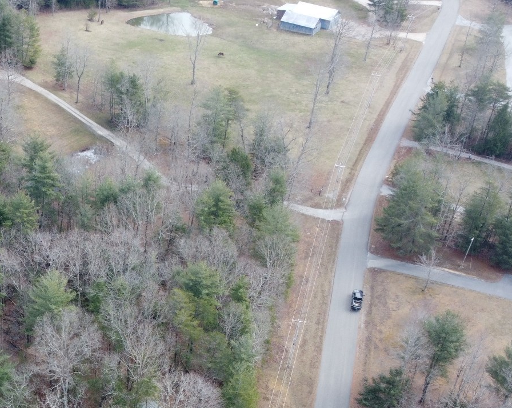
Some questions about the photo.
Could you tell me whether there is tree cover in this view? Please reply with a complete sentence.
Yes, there is tree cover in the image.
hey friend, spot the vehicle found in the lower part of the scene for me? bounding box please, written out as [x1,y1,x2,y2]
[352,291,365,310]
